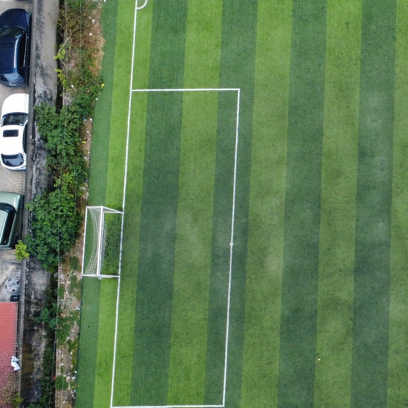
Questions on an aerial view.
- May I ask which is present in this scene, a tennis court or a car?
car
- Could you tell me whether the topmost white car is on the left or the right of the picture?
left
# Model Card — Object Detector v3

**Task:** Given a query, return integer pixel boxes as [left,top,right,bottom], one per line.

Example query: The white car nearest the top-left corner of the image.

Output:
[0,91,29,169]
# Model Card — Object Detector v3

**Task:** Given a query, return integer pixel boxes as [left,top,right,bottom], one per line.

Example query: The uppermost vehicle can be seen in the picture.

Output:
[0,5,32,85]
